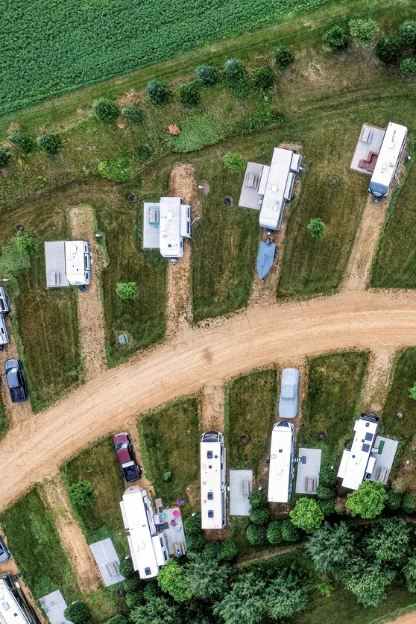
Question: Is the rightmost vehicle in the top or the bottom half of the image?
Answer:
top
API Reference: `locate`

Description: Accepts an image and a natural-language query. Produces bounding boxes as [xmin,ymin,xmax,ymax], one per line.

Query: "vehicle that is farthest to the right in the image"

[367,122,409,205]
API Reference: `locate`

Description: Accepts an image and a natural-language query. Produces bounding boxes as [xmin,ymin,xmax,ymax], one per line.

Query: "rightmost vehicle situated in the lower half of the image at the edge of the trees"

[337,405,380,488]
